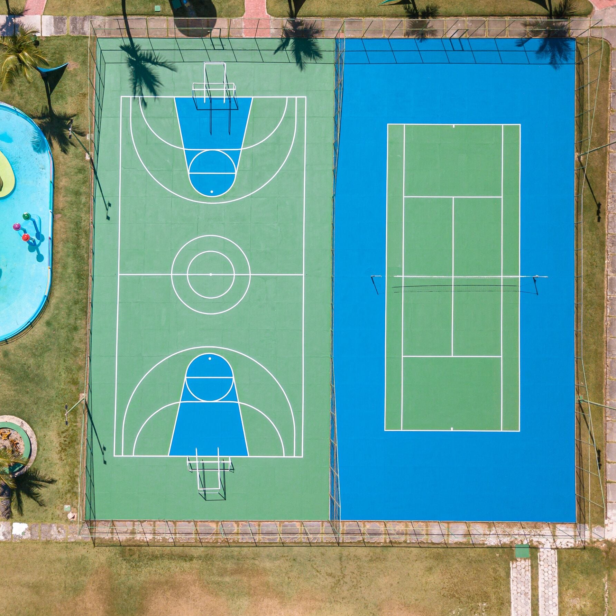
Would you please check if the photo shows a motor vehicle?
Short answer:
No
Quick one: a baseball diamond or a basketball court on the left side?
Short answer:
basketball court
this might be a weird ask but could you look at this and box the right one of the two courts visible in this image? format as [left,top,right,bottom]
[330,38,576,523]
